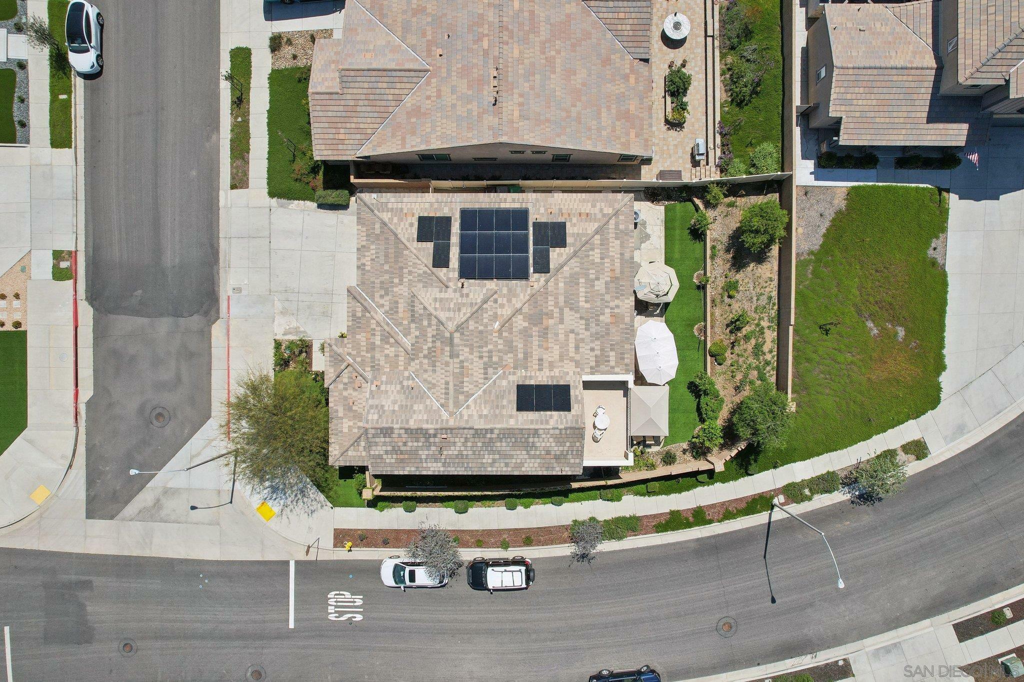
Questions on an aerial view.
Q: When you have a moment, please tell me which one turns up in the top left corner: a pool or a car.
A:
car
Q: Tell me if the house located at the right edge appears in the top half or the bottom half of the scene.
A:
top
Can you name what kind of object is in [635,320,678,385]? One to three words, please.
umbrella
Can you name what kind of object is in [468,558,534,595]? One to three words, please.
car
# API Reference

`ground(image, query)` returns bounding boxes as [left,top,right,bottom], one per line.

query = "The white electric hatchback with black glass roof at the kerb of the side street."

[62,0,103,71]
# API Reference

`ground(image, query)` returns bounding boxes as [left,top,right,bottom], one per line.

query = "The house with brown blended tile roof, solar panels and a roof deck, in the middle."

[323,191,634,475]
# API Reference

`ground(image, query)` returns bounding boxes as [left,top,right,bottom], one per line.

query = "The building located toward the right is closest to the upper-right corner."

[800,0,1024,157]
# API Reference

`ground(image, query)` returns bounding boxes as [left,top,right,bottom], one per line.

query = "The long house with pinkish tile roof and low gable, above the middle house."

[308,0,658,166]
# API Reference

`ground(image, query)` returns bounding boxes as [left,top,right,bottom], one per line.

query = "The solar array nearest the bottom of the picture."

[516,384,572,411]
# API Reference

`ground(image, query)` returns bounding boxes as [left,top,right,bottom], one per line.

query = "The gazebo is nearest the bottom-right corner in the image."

[630,385,669,436]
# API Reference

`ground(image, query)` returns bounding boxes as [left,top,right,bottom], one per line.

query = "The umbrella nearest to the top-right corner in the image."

[635,261,680,303]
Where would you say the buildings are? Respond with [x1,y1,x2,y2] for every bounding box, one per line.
[308,0,658,166]
[323,191,634,475]
[800,0,1024,157]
